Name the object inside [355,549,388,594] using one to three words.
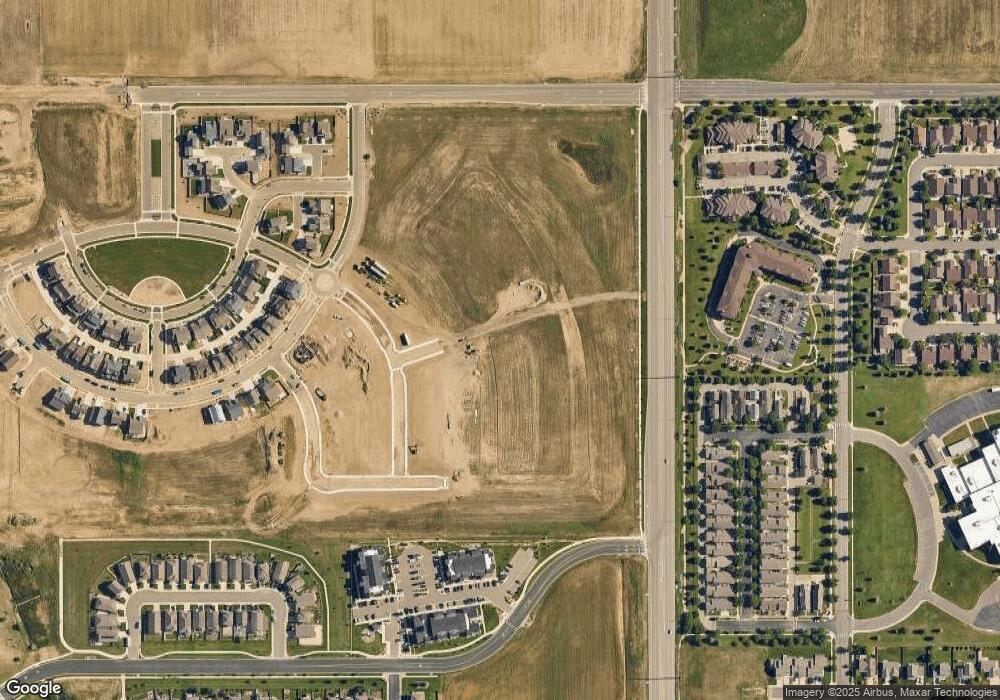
building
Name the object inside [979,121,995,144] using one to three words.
house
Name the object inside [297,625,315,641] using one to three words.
house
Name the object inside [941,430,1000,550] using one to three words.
building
